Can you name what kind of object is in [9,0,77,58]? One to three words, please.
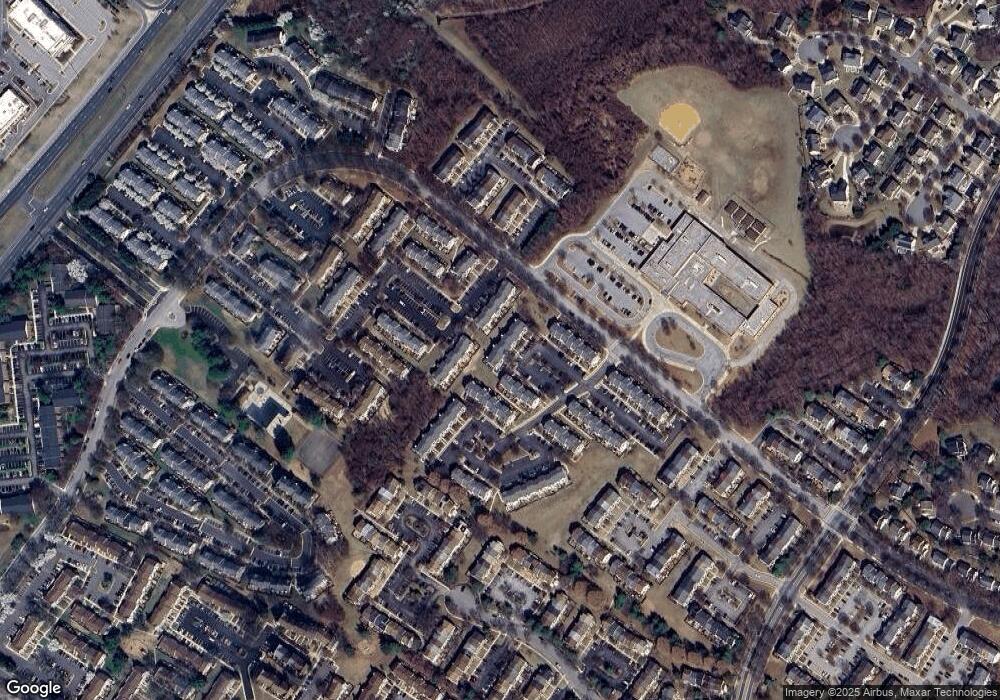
building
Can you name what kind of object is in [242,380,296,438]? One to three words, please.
swimming pool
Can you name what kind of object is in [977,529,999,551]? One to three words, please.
house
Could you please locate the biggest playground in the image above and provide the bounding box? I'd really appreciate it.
[119,630,155,660]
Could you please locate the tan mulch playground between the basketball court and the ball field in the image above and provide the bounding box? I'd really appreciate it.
[679,157,705,188]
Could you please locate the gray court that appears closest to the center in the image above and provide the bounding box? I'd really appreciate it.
[299,430,342,475]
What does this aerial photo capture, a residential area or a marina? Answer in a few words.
residential area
